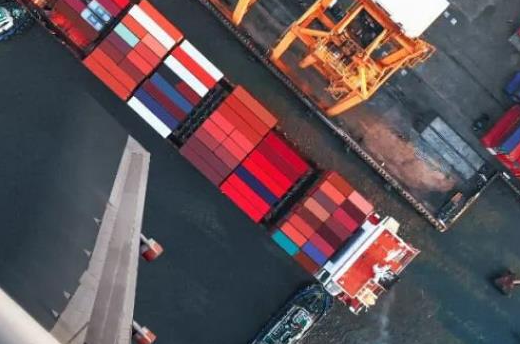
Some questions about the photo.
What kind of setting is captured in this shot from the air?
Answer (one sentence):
The area seen from above is a port.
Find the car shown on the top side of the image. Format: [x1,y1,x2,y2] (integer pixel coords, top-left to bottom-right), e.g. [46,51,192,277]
[470,112,490,128]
